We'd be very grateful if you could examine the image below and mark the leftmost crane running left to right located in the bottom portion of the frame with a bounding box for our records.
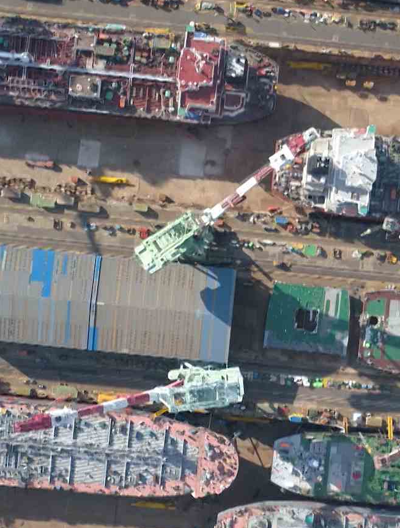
[7,357,249,425]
